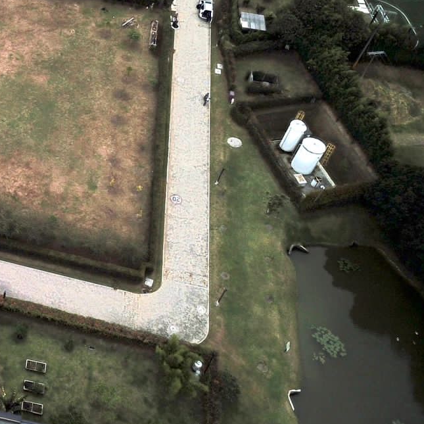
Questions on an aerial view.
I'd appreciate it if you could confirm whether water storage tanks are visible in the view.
Yes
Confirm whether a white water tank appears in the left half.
No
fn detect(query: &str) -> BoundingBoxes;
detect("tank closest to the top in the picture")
[279,119,310,155]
